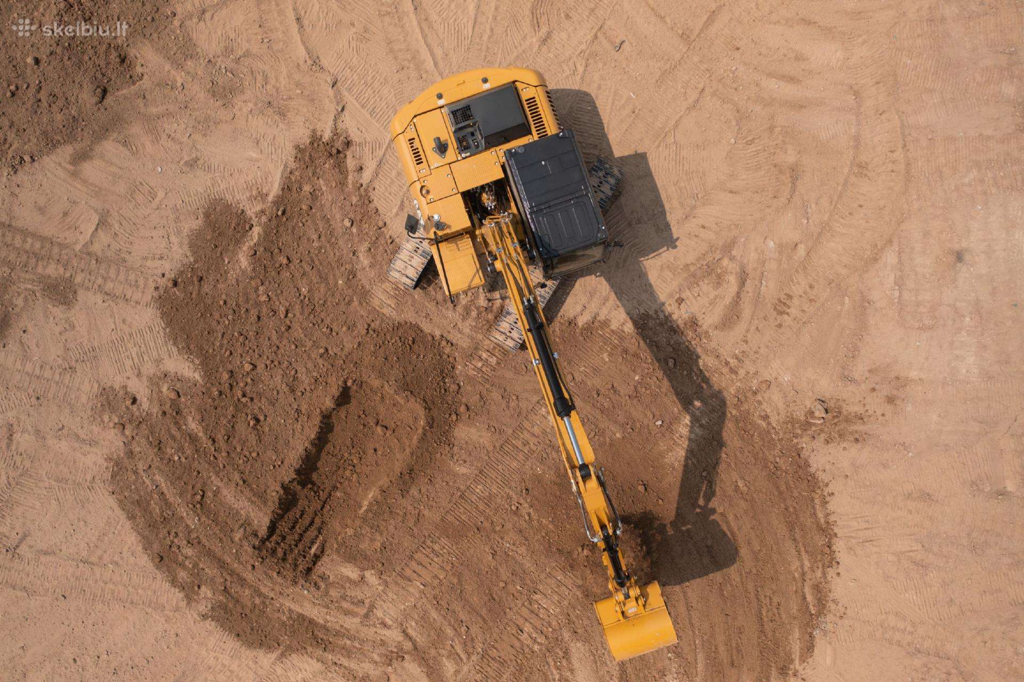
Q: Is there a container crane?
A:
No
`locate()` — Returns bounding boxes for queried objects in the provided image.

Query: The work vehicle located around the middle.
[385,62,681,662]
